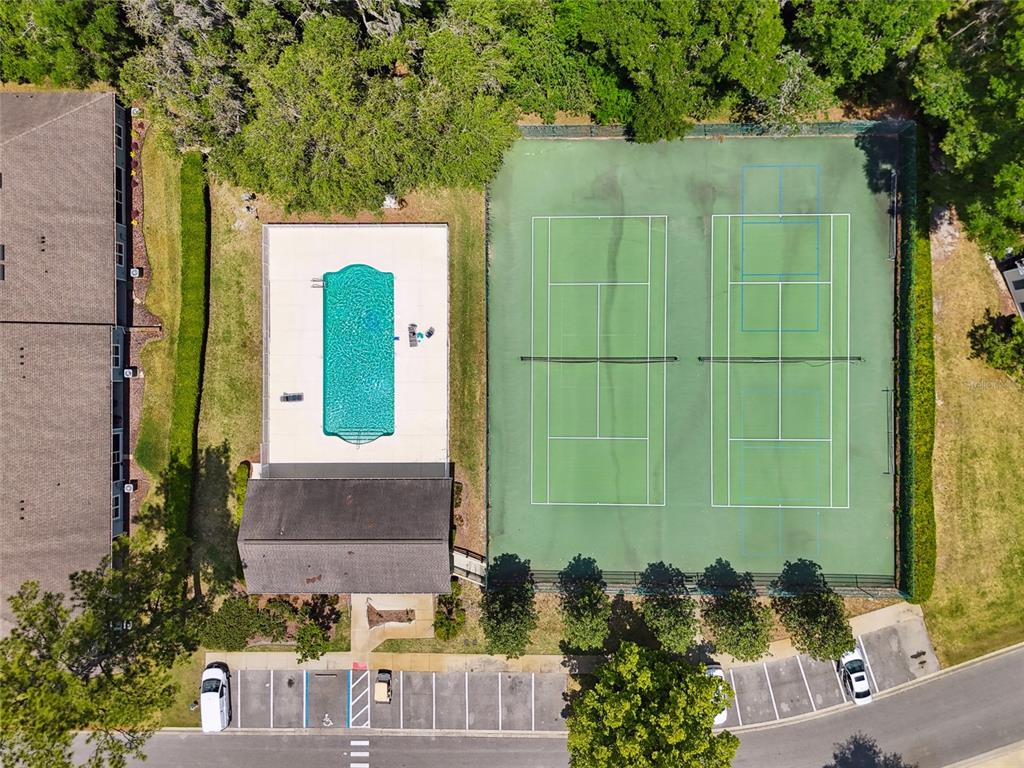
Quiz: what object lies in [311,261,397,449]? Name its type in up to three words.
swimming pool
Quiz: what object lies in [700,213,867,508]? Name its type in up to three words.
tennis court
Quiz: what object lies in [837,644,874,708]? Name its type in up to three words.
car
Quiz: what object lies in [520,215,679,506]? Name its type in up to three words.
tennis court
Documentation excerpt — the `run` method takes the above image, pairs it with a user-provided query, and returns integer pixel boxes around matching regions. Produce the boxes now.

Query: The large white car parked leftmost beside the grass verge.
[199,669,231,731]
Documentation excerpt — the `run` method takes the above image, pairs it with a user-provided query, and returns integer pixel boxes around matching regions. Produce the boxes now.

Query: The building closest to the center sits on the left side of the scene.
[238,477,451,598]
